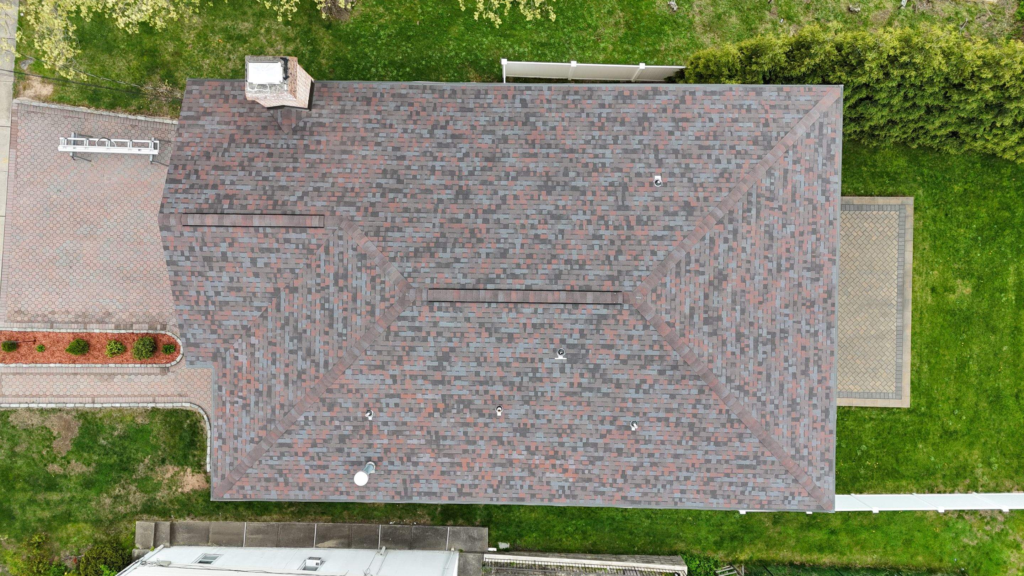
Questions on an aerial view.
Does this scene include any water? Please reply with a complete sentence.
No, no water is visible.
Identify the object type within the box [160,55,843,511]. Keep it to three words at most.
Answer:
house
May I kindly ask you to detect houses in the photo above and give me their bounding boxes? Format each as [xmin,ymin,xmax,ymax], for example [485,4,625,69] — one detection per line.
[160,55,843,511]
[118,545,459,576]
